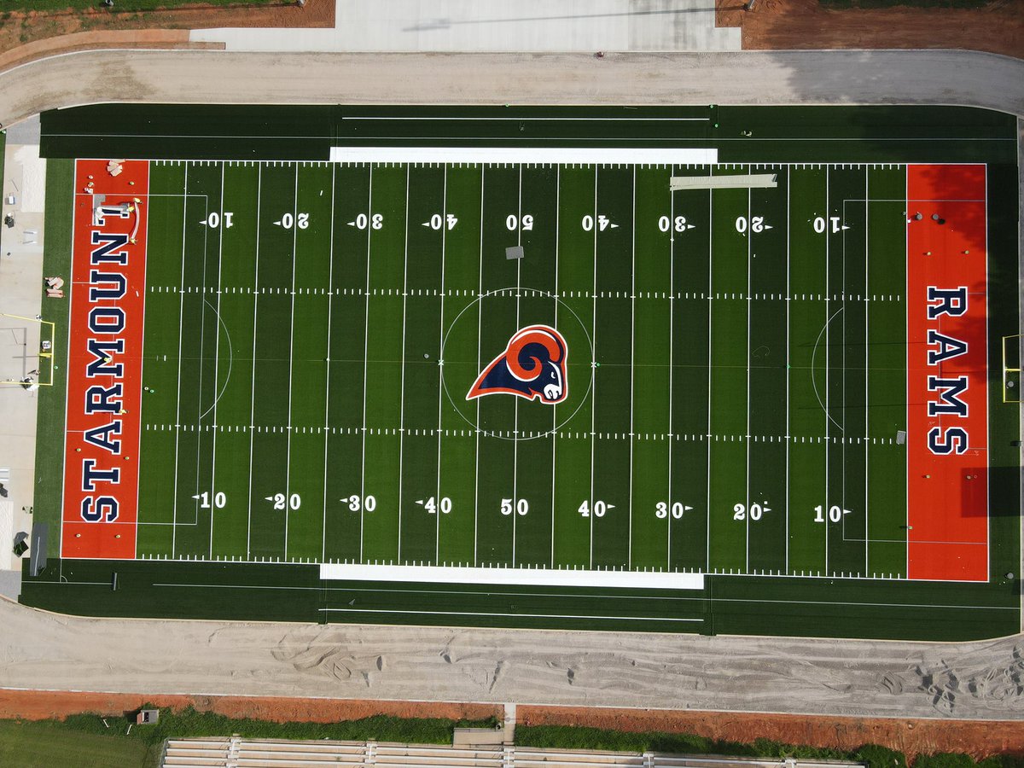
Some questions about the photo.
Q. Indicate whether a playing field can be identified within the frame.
Yes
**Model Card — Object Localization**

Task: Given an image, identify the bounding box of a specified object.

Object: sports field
[20,104,1020,641]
